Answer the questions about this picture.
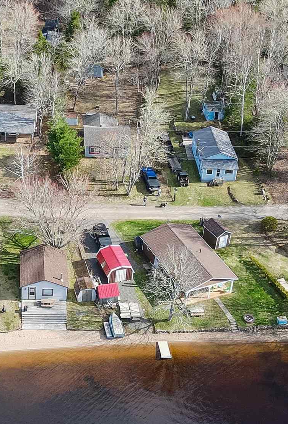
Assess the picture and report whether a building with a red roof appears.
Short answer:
Yes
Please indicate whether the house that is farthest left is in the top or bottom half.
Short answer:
top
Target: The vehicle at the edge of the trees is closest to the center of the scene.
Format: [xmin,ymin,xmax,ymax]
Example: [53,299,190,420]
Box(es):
[142,171,162,190]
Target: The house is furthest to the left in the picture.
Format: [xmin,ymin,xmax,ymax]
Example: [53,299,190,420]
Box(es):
[0,110,38,143]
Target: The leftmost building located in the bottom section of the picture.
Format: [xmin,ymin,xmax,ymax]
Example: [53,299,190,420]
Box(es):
[20,243,69,324]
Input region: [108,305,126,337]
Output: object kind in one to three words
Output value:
boat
